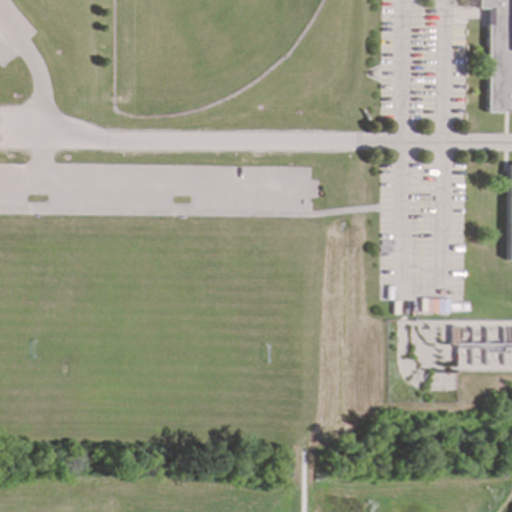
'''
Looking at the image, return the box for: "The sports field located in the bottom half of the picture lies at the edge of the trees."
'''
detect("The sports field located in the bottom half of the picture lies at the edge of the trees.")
[26,268,274,430]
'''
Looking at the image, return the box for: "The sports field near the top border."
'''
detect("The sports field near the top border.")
[117,0,321,114]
